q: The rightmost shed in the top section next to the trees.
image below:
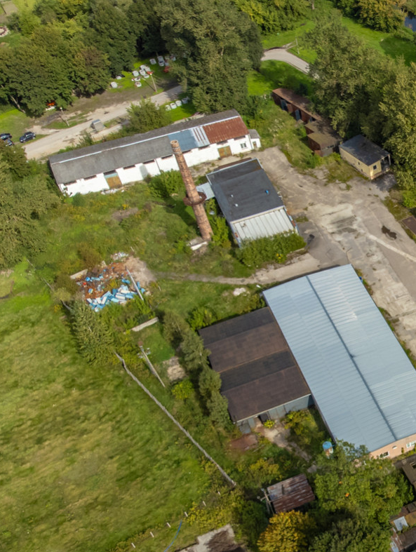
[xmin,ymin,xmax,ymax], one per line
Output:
[333,136,390,175]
